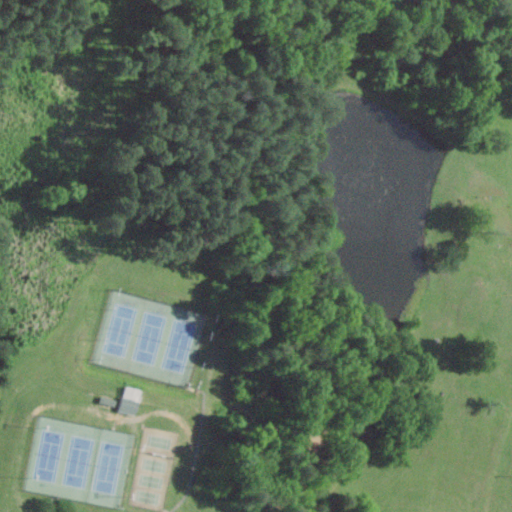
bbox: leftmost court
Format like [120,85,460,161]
[35,432,64,482]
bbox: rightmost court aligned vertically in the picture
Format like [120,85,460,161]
[162,320,195,372]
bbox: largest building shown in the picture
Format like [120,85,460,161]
[118,388,142,416]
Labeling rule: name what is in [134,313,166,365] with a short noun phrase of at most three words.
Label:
tennis court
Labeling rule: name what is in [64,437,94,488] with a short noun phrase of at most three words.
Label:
tennis court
